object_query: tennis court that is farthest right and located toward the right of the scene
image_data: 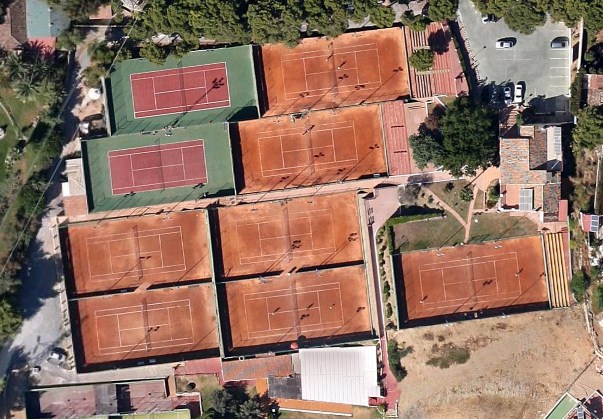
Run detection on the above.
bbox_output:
[393,236,549,329]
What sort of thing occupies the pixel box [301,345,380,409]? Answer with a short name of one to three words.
building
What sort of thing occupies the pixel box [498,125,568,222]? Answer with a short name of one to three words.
house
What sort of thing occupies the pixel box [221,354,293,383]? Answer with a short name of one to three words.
building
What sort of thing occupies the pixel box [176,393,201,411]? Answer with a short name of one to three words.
shed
